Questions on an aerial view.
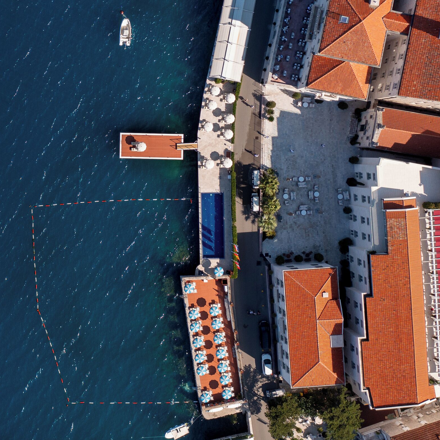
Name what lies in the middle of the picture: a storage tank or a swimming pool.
swimming pool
